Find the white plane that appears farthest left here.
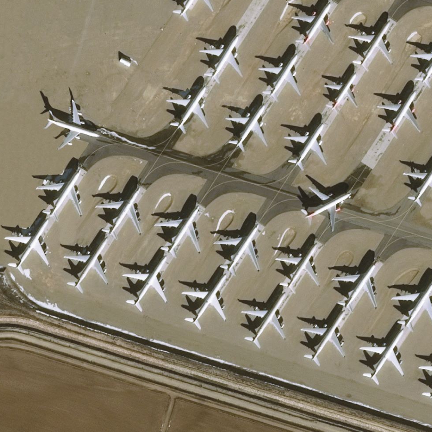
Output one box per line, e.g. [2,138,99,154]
[7,218,50,273]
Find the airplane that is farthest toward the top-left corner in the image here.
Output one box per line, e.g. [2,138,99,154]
[44,100,100,150]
